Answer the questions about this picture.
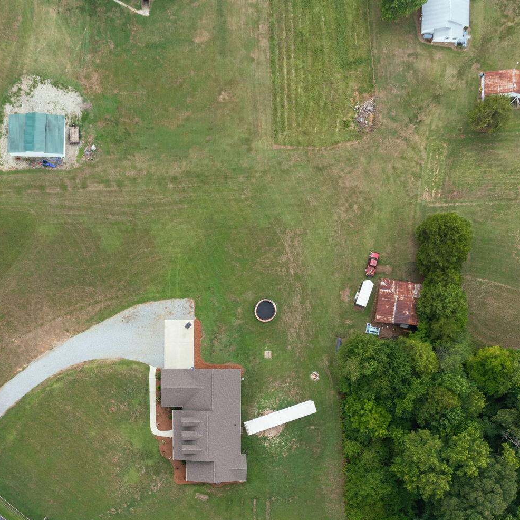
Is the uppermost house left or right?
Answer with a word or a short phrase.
right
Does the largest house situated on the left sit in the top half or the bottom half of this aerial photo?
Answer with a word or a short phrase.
bottom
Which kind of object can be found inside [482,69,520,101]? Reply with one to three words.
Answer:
shed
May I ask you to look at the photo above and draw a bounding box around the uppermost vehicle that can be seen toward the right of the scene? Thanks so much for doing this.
[365,252,380,278]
